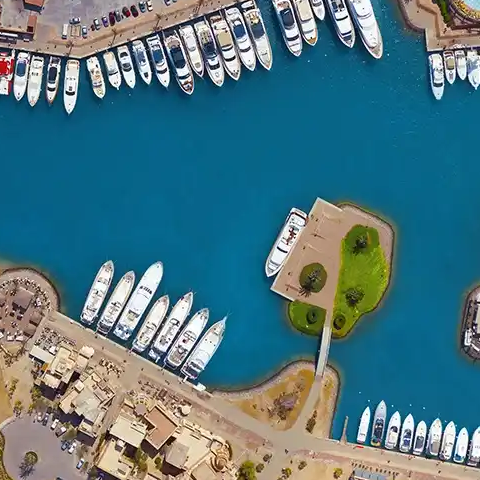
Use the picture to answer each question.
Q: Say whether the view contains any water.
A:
Yes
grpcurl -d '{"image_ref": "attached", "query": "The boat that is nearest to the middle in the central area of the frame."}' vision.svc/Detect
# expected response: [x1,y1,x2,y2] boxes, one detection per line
[267,206,309,275]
